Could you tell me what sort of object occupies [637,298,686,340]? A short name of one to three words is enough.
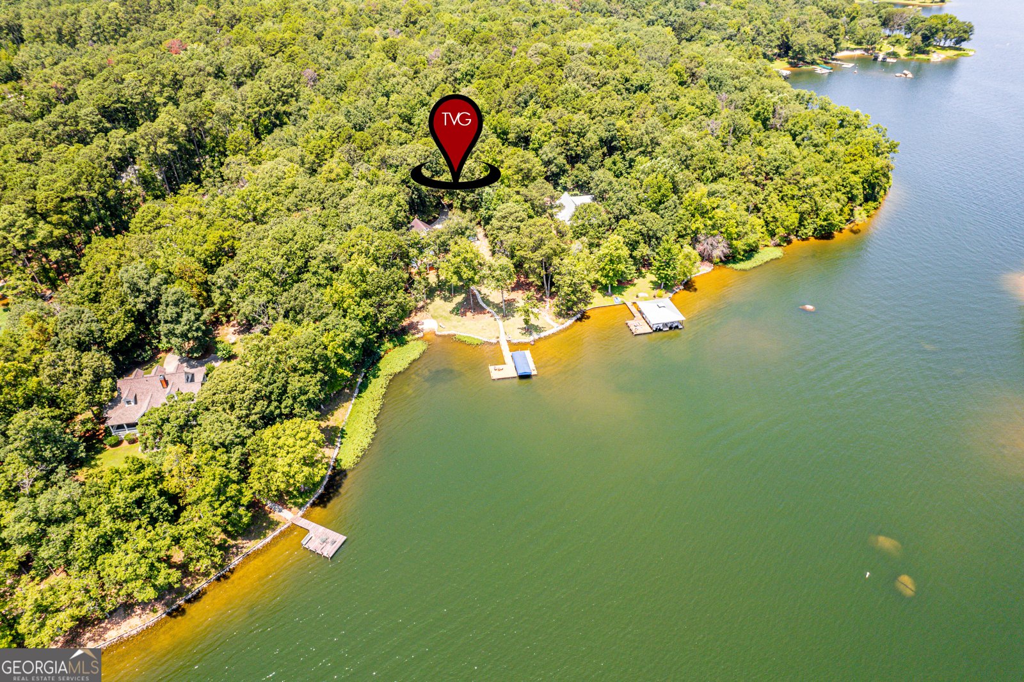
building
